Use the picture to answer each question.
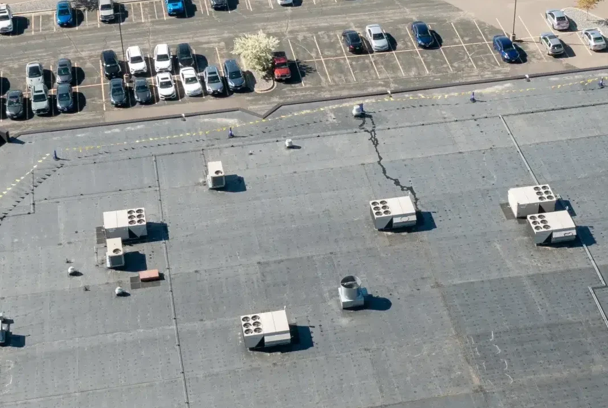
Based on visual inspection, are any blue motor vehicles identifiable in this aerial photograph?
Yes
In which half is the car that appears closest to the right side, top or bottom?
top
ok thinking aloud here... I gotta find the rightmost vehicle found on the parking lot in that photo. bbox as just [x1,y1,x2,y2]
[580,30,608,54]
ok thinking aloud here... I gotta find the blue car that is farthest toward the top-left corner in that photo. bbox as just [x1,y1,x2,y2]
[56,2,73,26]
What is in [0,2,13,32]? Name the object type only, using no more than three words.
vehicle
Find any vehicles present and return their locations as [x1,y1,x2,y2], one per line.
[224,60,246,91]
[54,86,76,115]
[96,0,116,24]
[202,65,225,96]
[132,79,154,108]
[28,83,51,116]
[538,34,567,59]
[56,2,73,26]
[543,11,573,34]
[342,32,366,57]
[108,80,128,109]
[580,30,608,54]
[175,39,195,72]
[4,92,25,121]
[25,64,46,92]
[101,46,123,79]
[127,45,148,75]
[54,60,75,88]
[181,70,203,98]
[153,41,174,72]
[492,38,520,64]
[366,27,389,53]
[0,2,13,32]
[156,75,177,104]
[211,0,226,8]
[410,25,435,51]
[270,50,293,85]
[164,0,183,15]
